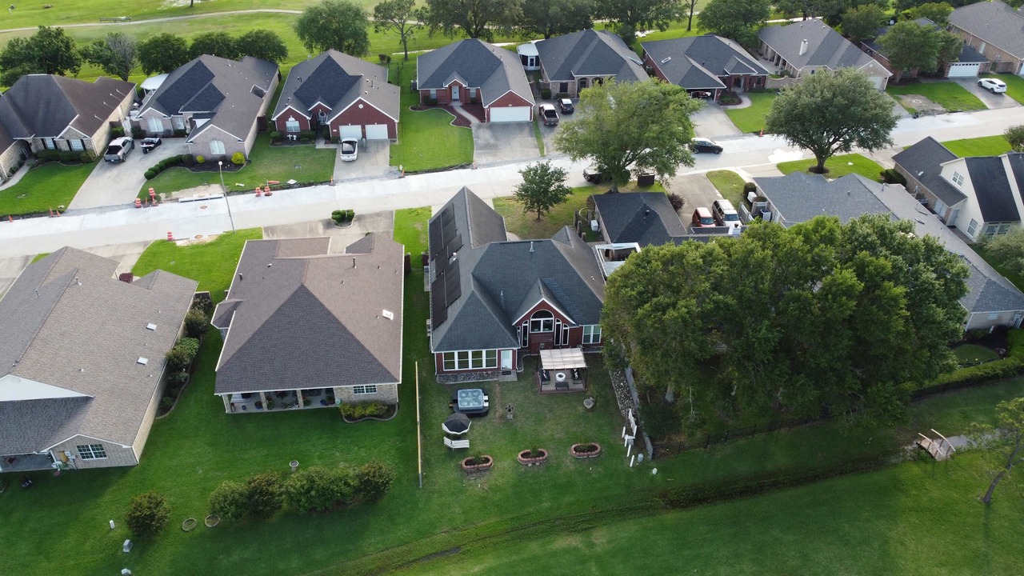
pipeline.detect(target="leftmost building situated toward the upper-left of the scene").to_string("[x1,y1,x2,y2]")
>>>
[0,62,143,189]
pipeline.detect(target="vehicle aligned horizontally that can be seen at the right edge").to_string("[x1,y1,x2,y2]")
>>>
[973,75,1016,93]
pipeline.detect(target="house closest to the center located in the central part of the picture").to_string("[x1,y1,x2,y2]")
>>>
[428,188,618,380]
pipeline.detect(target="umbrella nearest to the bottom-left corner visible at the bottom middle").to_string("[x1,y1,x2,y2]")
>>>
[442,408,470,440]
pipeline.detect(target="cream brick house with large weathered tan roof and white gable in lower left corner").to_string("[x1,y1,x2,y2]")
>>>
[0,242,201,478]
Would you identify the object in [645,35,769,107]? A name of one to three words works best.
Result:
house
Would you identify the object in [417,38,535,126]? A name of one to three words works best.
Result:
house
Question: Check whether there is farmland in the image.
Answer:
No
